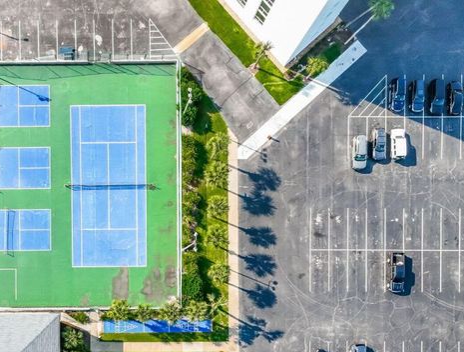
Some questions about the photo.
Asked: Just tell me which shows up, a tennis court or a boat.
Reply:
tennis court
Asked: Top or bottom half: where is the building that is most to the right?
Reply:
top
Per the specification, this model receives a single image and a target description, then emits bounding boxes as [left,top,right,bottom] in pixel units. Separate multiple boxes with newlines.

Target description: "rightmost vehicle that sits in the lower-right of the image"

[388,253,406,294]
